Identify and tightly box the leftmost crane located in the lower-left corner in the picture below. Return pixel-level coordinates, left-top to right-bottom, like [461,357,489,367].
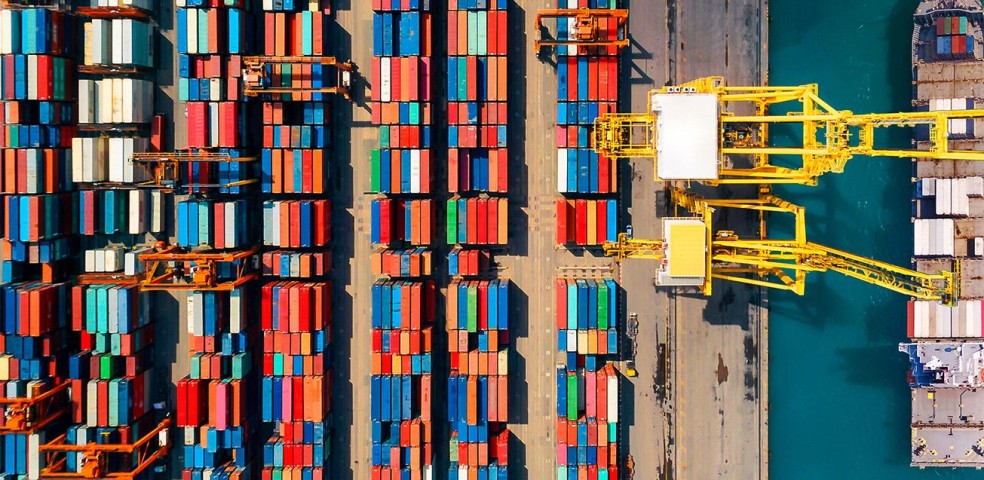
[0,376,72,436]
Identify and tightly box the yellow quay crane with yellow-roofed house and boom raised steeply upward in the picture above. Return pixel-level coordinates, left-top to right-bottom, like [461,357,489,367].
[604,187,959,305]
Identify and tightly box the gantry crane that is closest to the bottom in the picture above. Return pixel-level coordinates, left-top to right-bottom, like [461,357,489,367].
[36,407,180,480]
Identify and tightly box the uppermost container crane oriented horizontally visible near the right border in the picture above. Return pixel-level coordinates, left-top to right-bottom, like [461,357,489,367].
[594,73,984,192]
